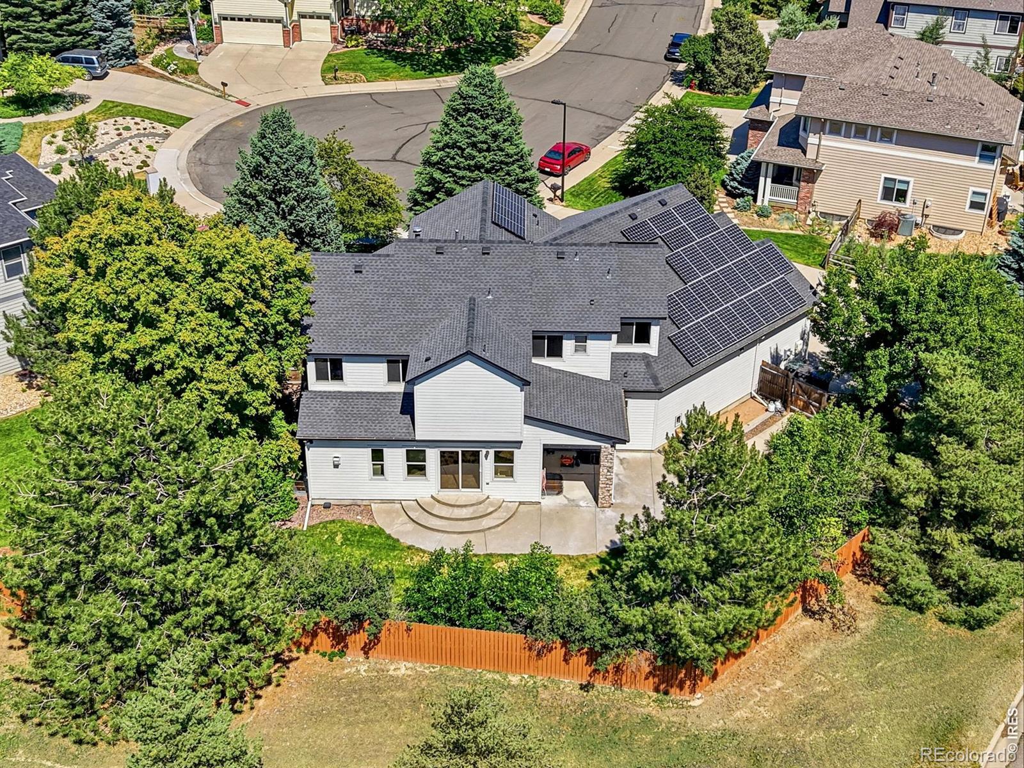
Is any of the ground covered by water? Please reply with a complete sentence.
No, there is no water in the image.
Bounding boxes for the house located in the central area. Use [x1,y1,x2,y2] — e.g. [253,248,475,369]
[294,180,825,542]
